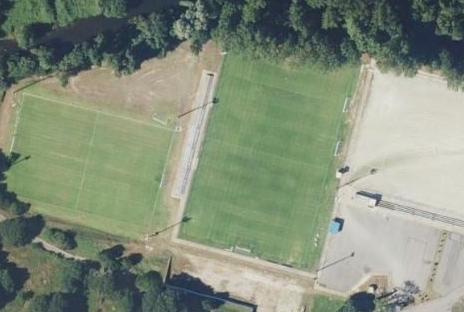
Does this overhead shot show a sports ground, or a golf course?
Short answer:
sports ground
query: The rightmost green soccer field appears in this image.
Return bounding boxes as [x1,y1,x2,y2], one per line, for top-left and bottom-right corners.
[180,54,362,272]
